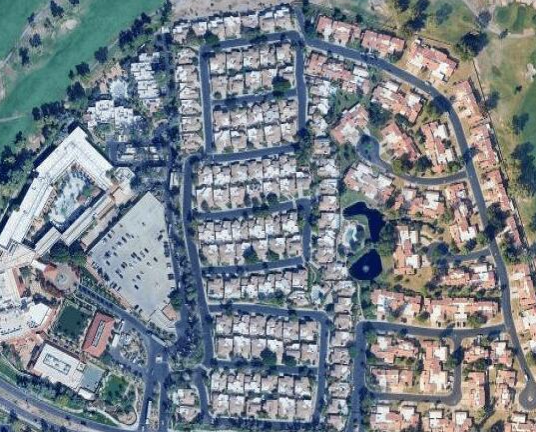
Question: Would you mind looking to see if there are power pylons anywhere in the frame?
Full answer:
No, no power pylon can be seen from above.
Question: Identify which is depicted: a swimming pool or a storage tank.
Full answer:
This aerial view contains a swimming pool.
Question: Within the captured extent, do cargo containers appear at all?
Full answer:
No, I can't see a single cargo container in this photo.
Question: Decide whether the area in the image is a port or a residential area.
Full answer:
The picture captures a residential area.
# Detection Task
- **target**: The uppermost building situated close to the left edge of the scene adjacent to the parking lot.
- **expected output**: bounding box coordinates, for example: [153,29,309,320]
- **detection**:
[0,125,137,257]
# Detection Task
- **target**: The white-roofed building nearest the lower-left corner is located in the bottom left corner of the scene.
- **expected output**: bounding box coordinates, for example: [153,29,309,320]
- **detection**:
[31,343,94,406]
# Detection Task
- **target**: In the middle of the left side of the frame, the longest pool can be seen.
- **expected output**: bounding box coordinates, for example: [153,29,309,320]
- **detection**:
[40,164,95,227]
